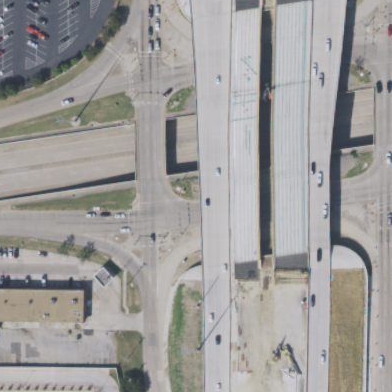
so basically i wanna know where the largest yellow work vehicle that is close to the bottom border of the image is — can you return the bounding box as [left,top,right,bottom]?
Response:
[282,347,298,375]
